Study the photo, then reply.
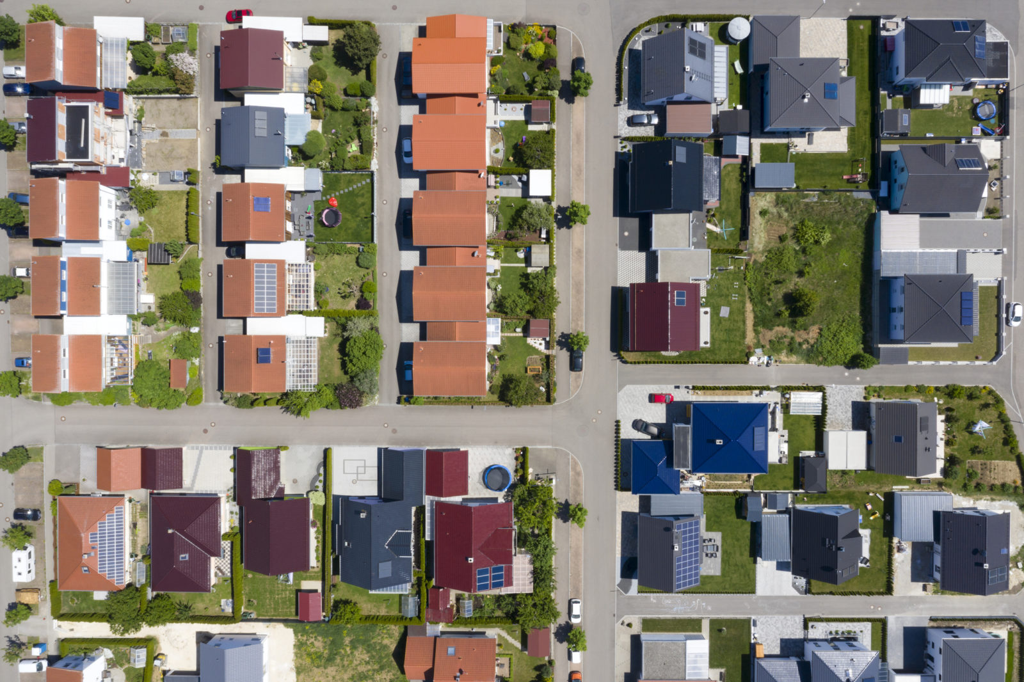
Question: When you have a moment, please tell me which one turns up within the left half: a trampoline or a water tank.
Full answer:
Visible within the left half is a trampoline.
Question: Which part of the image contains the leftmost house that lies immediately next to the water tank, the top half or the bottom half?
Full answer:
It is in the top half that the leftmost house that lies immediately next to the water tank appears.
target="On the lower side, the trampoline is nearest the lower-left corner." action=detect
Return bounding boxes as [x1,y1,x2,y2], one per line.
[483,464,511,493]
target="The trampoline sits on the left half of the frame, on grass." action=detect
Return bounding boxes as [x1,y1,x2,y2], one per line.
[320,206,341,227]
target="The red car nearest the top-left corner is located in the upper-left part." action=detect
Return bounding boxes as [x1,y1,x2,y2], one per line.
[227,9,253,22]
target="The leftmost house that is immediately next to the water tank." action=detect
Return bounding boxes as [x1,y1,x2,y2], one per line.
[640,27,714,109]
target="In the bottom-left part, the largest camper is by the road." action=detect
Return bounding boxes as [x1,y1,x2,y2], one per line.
[13,544,34,583]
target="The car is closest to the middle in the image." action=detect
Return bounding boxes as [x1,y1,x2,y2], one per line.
[571,349,584,372]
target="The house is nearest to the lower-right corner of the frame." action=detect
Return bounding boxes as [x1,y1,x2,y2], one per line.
[927,629,1005,682]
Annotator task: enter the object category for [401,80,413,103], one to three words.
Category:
vehicle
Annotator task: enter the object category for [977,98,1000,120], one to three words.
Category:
trampoline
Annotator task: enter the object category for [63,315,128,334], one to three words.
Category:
building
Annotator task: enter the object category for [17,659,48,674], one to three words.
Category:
vehicle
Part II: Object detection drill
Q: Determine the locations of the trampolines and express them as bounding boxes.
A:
[320,206,341,227]
[483,464,511,493]
[977,98,1000,120]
